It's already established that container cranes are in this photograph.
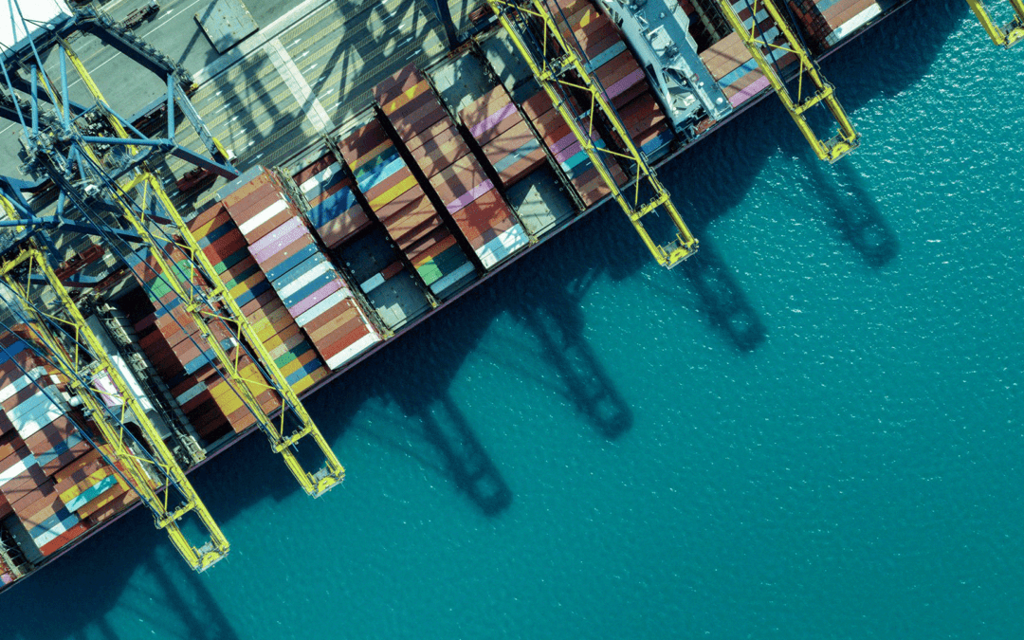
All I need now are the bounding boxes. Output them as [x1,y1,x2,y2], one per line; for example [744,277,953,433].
[0,90,235,575]
[959,0,1024,52]
[419,0,699,272]
[0,0,349,498]
[710,0,862,166]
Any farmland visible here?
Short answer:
No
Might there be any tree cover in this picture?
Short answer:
No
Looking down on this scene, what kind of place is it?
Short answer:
port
